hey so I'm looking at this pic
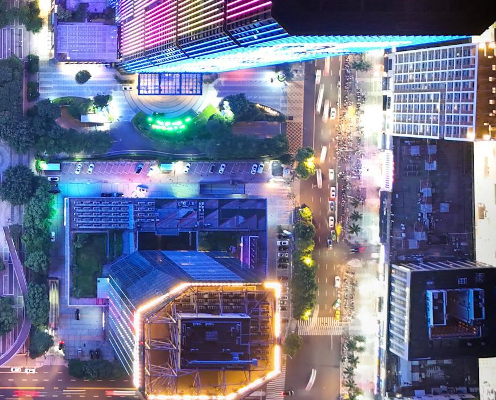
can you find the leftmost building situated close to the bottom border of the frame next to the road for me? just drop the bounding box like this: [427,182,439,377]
[106,244,284,400]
